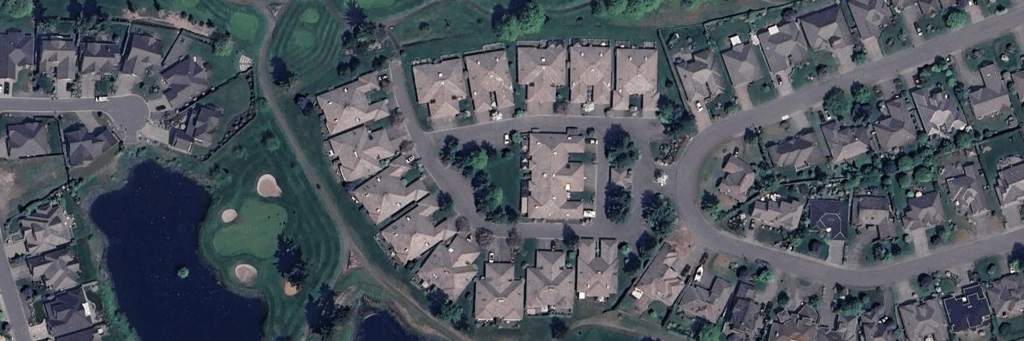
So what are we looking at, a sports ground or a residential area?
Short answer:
residential area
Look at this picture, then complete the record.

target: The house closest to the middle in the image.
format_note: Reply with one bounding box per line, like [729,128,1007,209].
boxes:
[529,132,585,222]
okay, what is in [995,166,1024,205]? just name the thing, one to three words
house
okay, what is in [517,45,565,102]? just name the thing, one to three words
house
